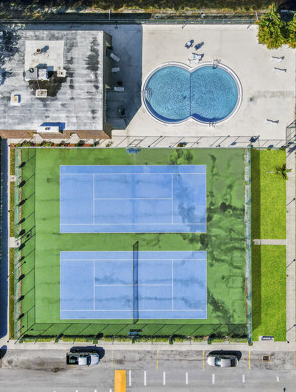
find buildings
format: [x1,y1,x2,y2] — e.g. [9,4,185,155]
[0,30,111,139]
